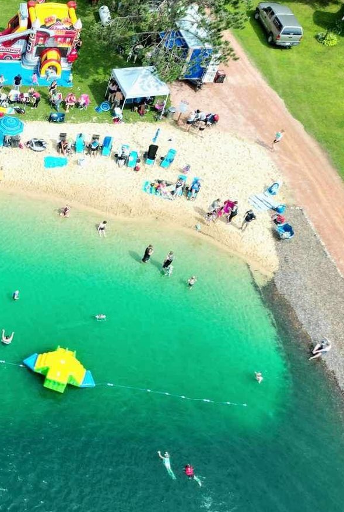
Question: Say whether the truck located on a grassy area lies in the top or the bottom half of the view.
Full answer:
It is in the top half that the truck located on a grassy area appears.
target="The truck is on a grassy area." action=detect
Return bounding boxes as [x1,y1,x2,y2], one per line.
[253,0,312,45]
